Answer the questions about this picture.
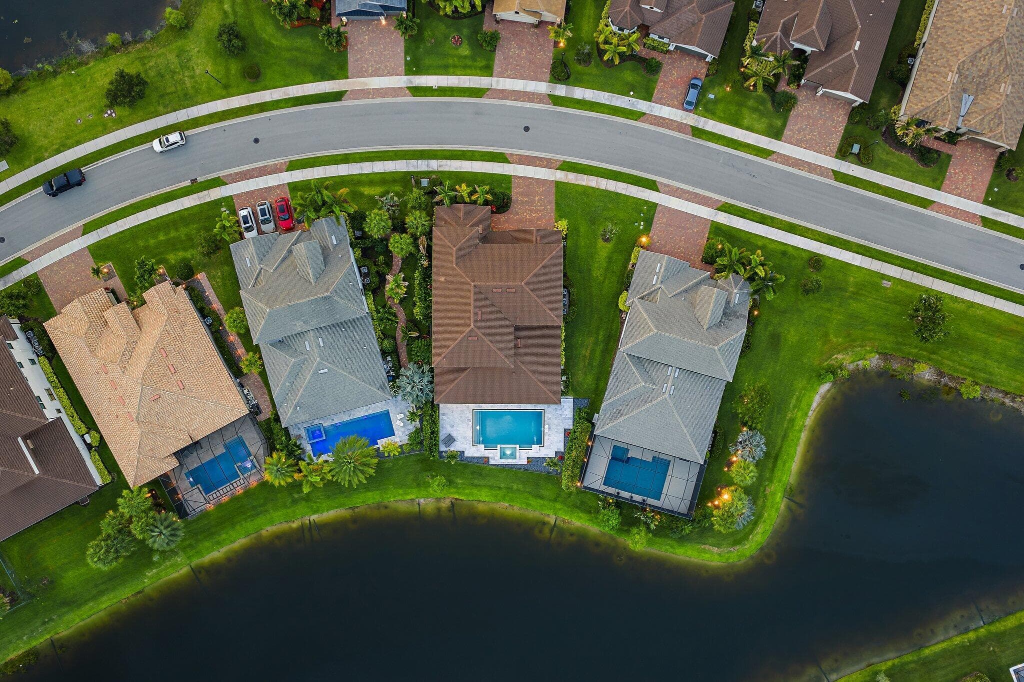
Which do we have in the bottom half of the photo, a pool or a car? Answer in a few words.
pool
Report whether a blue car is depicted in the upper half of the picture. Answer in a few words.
Yes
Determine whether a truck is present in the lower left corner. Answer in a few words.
No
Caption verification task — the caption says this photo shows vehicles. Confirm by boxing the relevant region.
[257,201,277,233]
[154,132,187,153]
[275,197,295,230]
[238,206,260,238]
[682,77,701,111]
[45,169,87,195]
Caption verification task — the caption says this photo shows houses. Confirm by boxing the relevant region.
[229,215,392,428]
[895,0,1024,154]
[0,315,106,542]
[335,0,407,23]
[432,204,563,404]
[493,0,565,28]
[750,0,900,109]
[594,250,753,464]
[43,281,252,489]
[608,0,735,65]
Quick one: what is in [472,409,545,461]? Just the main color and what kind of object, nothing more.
blue swimming pool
